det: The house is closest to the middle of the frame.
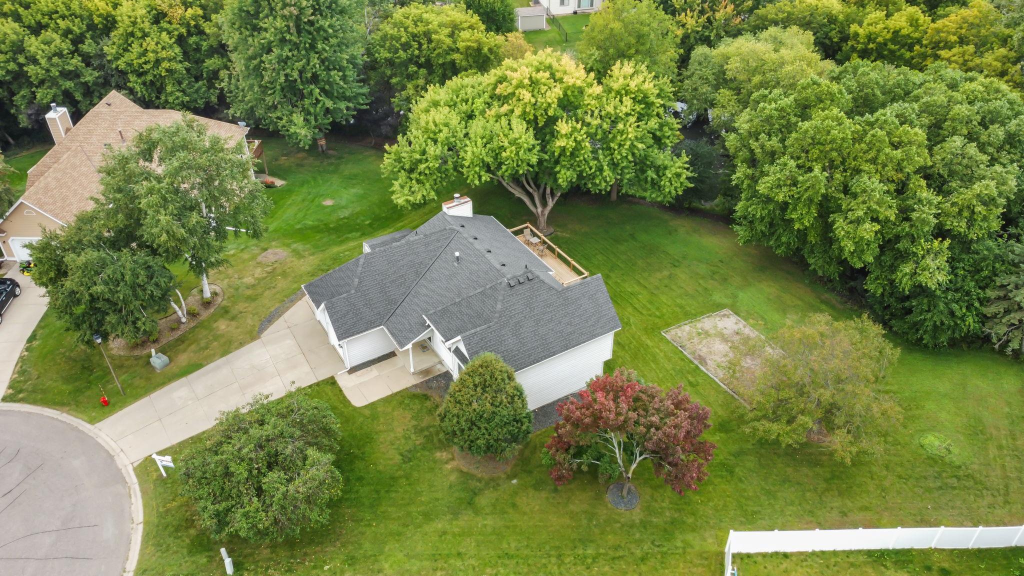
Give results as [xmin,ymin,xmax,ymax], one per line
[300,197,622,422]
